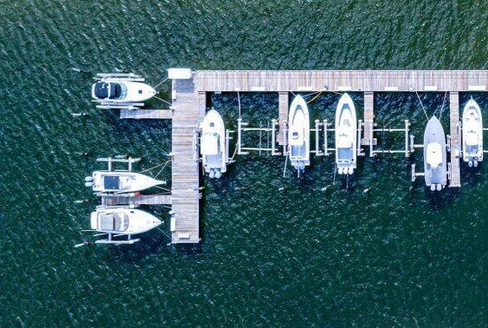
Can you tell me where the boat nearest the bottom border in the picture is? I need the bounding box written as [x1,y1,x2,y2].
[90,208,170,234]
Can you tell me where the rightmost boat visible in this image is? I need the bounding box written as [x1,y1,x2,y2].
[462,95,483,169]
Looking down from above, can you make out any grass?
No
